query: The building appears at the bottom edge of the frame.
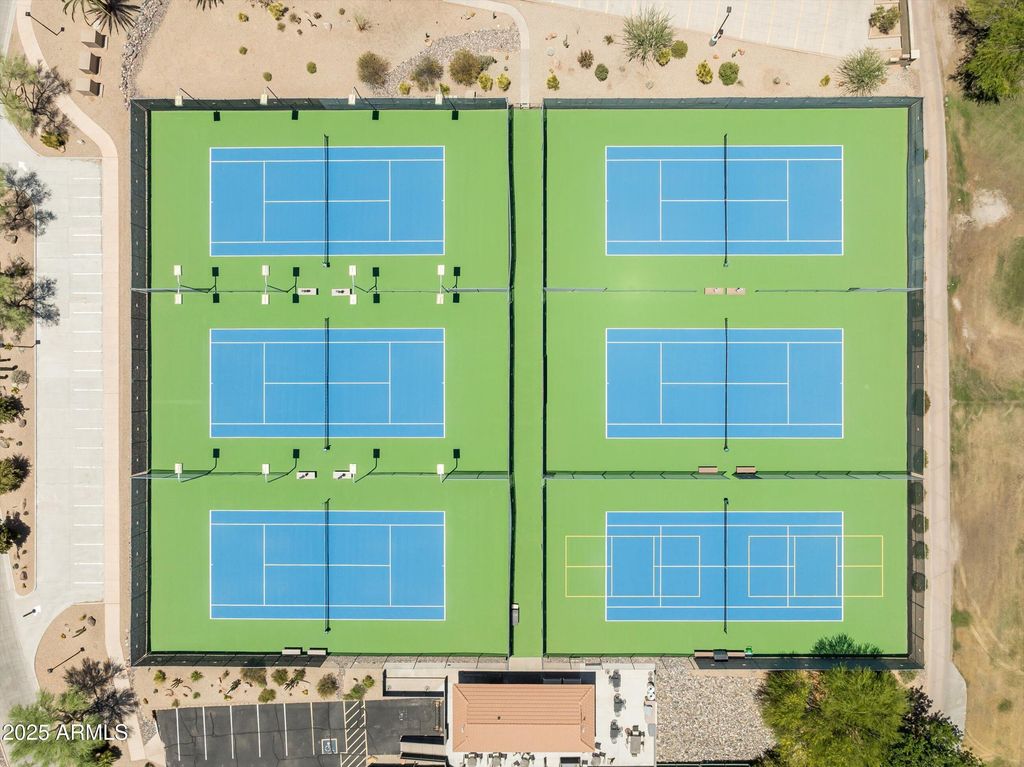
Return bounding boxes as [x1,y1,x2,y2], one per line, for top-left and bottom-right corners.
[452,673,595,753]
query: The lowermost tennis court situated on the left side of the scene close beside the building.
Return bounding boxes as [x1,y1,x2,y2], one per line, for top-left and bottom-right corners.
[147,473,508,656]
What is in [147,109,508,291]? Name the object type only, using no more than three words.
tennis court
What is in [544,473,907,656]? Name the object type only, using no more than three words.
tennis court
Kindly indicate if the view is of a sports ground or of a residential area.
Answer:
sports ground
